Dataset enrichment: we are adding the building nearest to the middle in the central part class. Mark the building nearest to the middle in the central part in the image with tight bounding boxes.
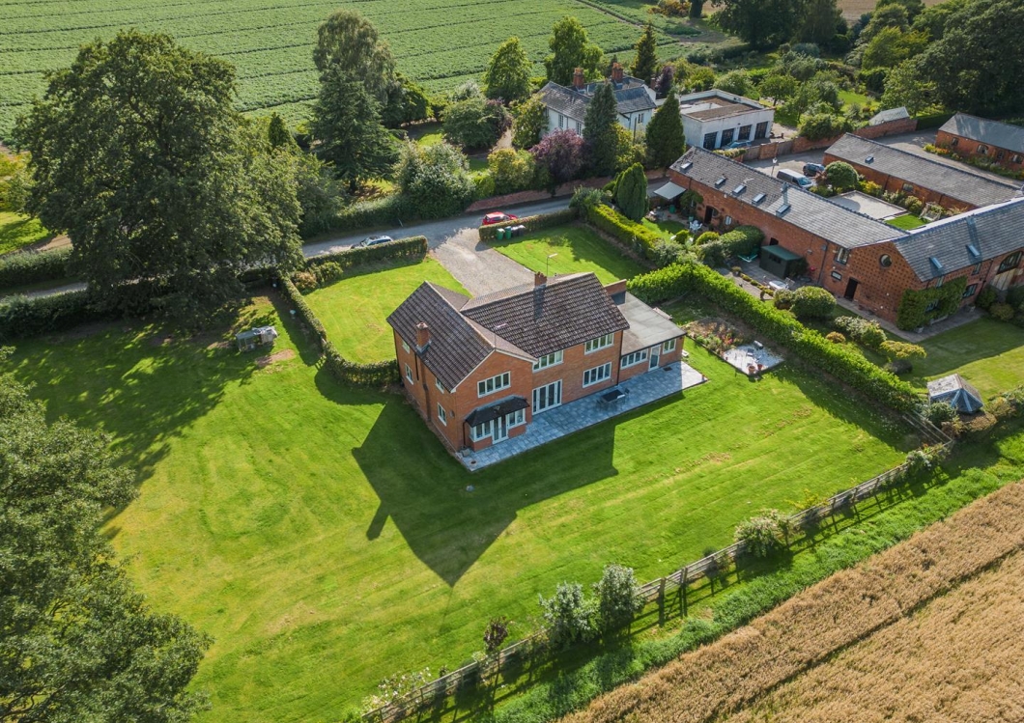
[387,271,690,451]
